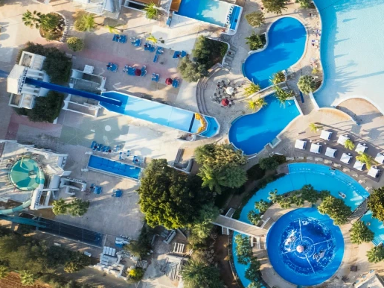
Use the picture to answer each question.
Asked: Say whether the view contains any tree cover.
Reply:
Yes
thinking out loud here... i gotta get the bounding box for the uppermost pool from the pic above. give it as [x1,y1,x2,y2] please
[176,0,244,34]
